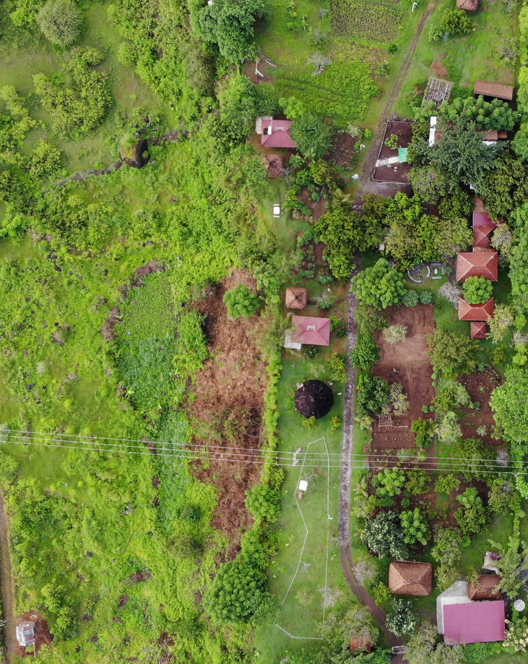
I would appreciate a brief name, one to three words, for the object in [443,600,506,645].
house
